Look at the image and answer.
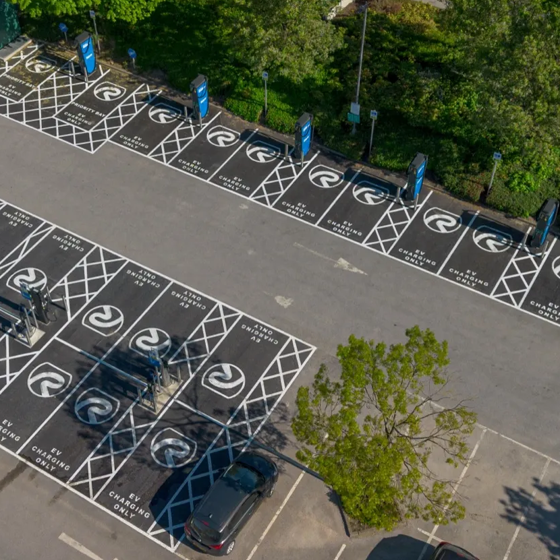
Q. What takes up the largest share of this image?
paved ground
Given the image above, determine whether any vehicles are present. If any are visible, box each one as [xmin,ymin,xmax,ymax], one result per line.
[428,540,483,560]
[185,452,281,560]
